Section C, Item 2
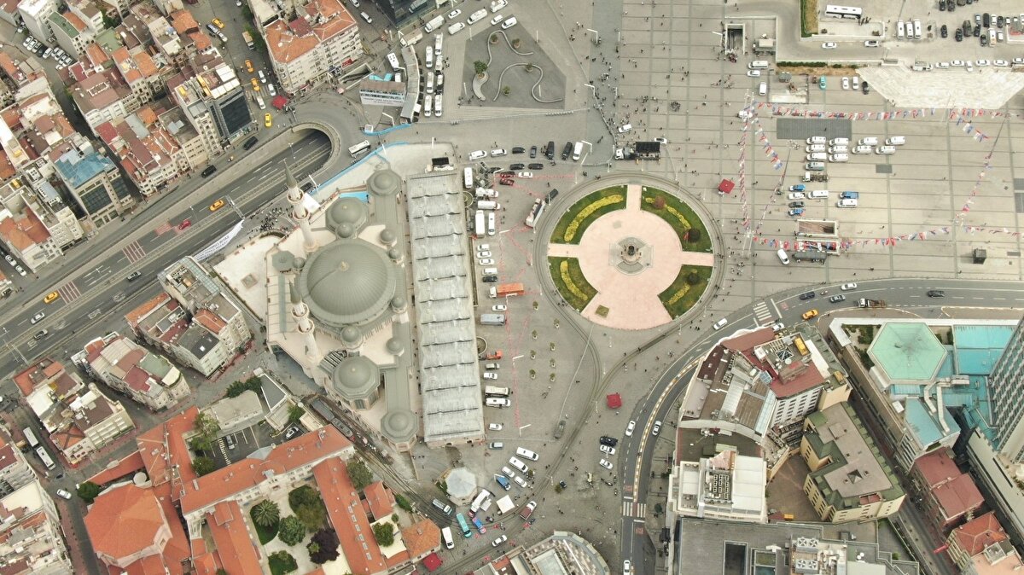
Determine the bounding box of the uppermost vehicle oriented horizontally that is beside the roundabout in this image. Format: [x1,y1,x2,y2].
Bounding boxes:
[614,145,662,160]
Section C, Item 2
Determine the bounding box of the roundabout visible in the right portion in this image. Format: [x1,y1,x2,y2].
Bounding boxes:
[532,172,728,345]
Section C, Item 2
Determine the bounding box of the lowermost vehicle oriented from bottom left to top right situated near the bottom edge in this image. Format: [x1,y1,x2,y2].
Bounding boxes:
[492,535,508,547]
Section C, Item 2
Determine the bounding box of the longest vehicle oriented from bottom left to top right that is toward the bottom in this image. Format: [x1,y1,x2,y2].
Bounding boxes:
[466,484,492,519]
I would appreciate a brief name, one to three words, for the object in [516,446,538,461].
vehicle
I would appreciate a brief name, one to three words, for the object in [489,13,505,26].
vehicle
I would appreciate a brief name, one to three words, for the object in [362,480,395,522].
house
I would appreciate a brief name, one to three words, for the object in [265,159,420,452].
building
